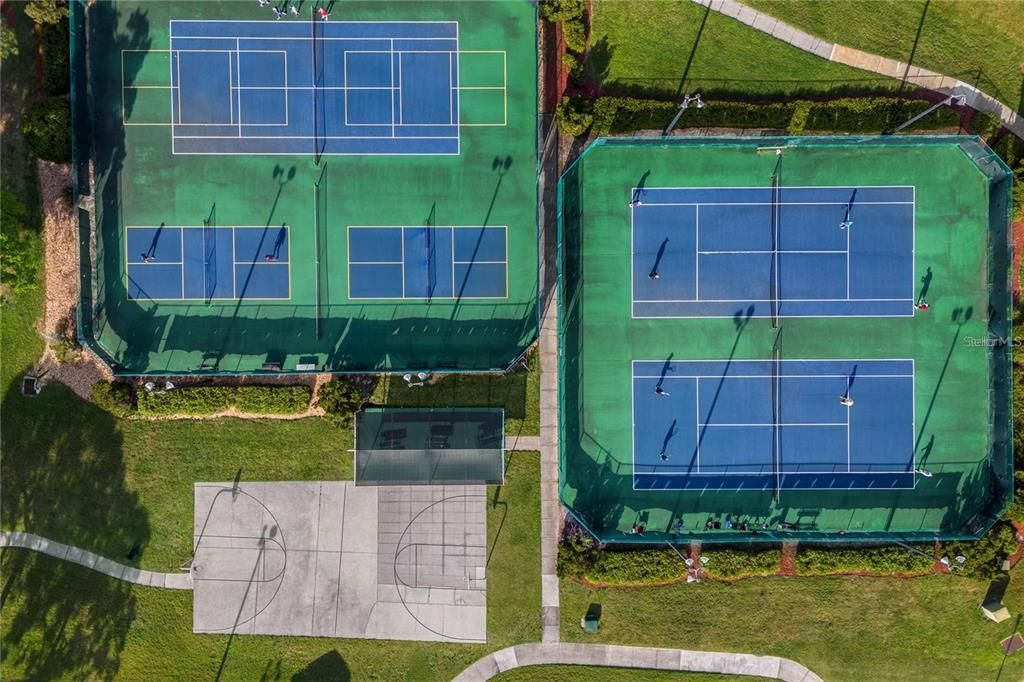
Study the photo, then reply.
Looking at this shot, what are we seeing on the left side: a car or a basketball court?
basketball court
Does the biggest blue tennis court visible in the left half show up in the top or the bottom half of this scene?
top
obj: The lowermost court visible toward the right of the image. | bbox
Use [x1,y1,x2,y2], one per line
[632,359,915,490]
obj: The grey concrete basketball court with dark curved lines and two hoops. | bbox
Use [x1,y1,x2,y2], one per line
[193,481,487,643]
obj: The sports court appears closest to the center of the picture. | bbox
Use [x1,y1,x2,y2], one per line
[347,226,508,299]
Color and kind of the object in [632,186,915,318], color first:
blue tennis court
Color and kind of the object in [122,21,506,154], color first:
blue tennis court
